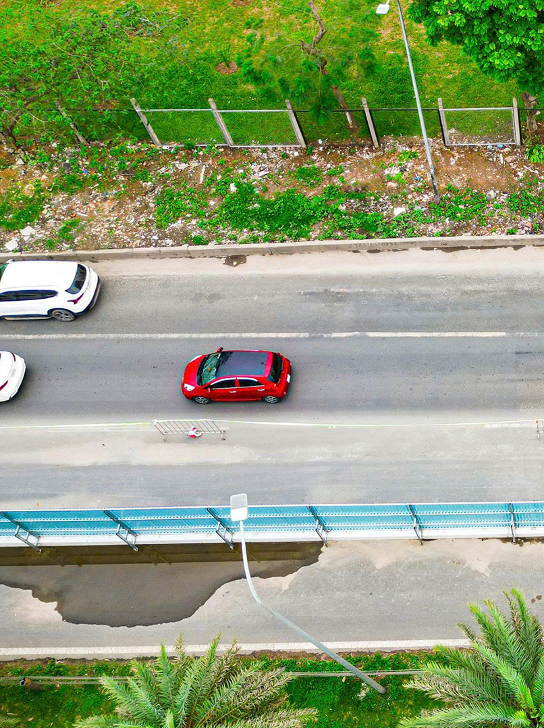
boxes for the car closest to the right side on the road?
[179,347,292,403]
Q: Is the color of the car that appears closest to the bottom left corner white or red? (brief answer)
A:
white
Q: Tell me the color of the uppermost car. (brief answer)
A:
white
